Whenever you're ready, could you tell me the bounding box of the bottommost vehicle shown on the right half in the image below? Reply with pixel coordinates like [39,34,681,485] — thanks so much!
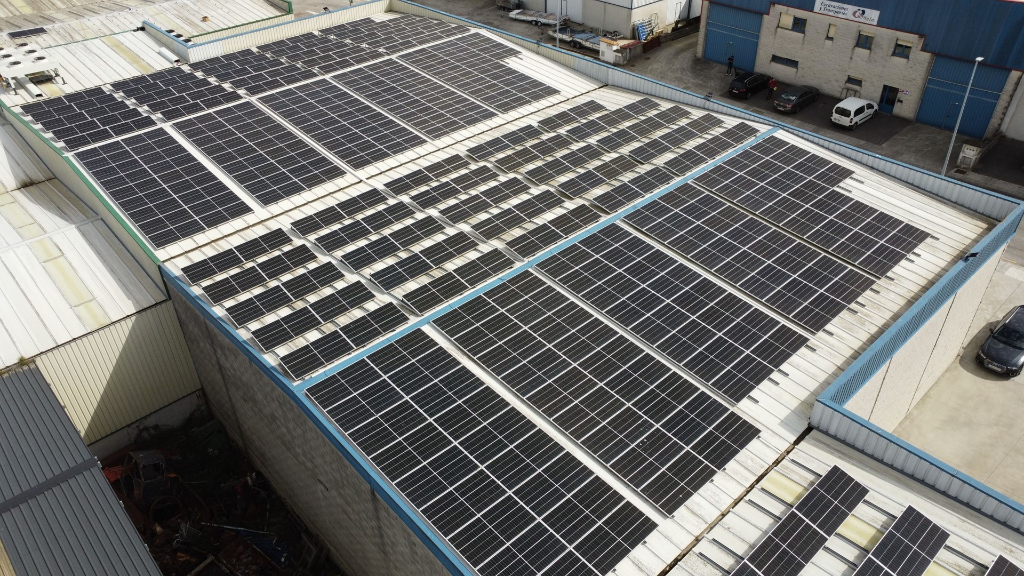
[974,307,1024,382]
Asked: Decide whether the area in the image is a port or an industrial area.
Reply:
industrial area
